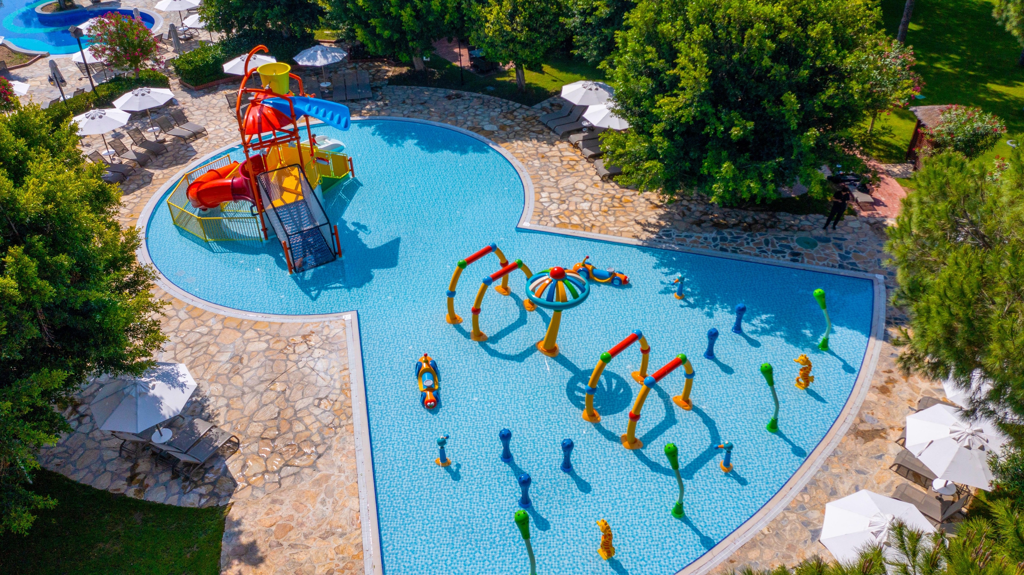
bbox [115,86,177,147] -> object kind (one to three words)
umbrella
